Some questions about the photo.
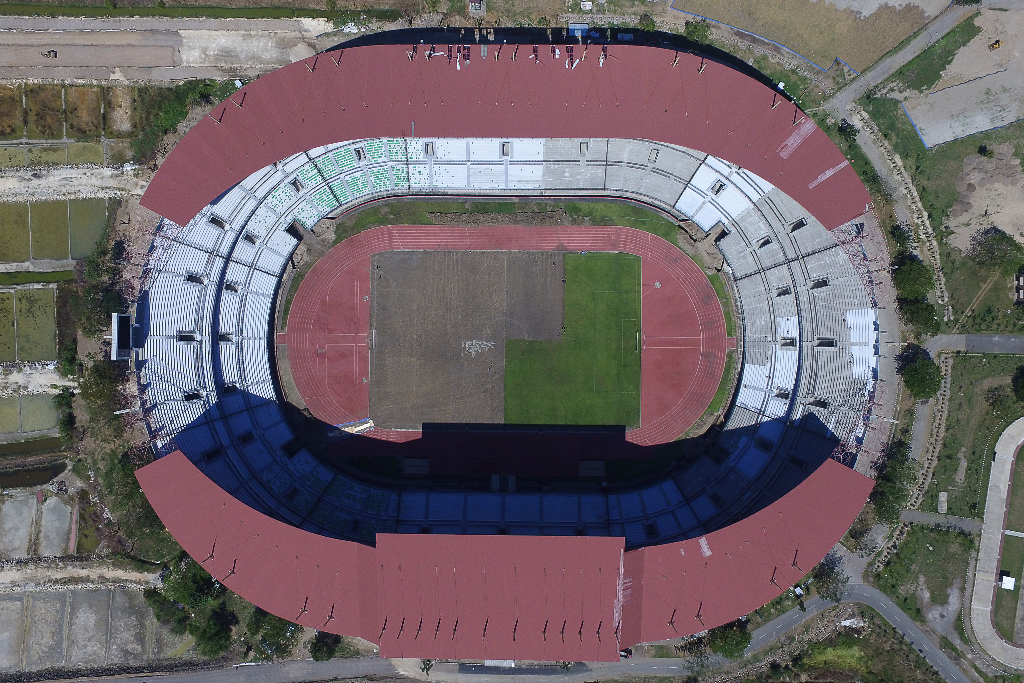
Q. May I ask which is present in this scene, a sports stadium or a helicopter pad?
sports stadium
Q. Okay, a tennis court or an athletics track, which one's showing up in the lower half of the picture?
athletics track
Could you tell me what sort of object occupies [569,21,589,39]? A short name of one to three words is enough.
shed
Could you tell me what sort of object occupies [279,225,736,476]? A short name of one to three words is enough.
running track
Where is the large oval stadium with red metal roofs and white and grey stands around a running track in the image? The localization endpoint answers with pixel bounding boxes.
[99,44,910,662]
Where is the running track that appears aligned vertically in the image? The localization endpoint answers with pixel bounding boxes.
[970,417,1024,671]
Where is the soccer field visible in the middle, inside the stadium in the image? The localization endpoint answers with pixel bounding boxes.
[370,251,642,431]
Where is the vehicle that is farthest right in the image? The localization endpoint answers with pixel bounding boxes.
[989,39,1007,52]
